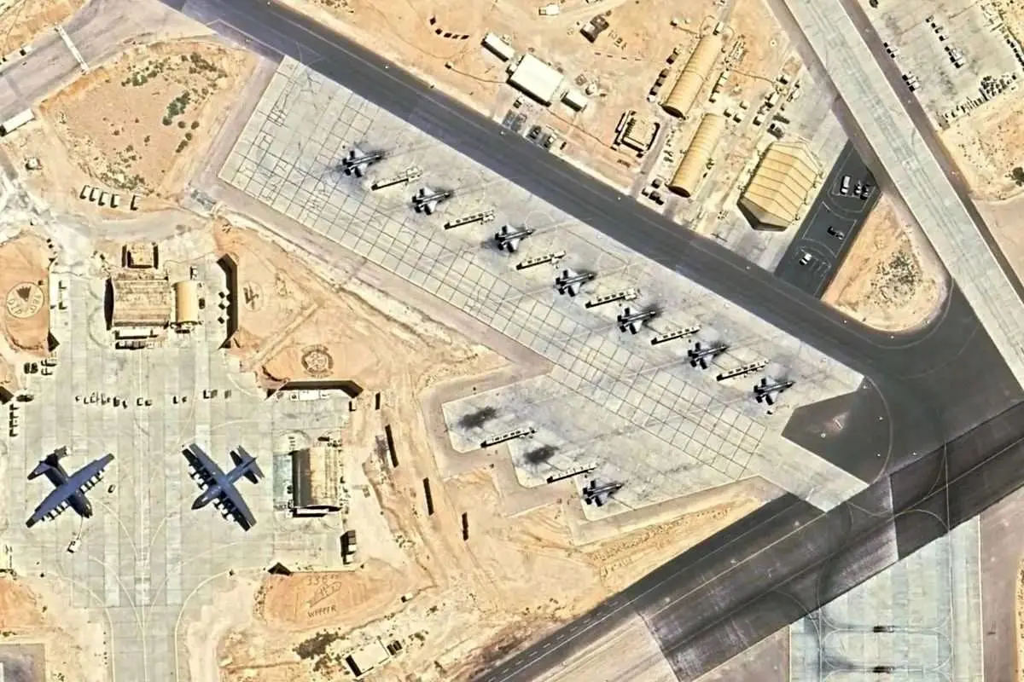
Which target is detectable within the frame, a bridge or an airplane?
airplane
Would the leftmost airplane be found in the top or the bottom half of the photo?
bottom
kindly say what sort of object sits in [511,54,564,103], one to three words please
shed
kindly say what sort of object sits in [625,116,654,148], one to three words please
building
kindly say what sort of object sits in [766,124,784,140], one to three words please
vehicle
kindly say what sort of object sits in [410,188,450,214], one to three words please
airplane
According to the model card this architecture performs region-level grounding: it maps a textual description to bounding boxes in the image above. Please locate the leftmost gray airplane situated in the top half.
[341,150,381,176]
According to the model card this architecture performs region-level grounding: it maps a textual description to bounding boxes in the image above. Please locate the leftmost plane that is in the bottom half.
[34,443,120,523]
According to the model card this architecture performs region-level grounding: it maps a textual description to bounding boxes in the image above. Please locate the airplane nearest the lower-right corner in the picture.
[752,378,791,405]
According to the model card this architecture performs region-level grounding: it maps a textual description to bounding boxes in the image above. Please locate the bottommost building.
[350,640,389,674]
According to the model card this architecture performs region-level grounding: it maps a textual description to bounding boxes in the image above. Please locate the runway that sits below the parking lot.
[471,400,1024,682]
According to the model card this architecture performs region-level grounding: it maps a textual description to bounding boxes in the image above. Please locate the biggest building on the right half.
[740,142,824,229]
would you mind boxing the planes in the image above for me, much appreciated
[582,479,621,506]
[686,342,725,369]
[183,444,267,529]
[752,378,791,405]
[341,150,381,176]
[555,270,594,296]
[616,308,656,334]
[493,225,533,252]
[410,188,450,214]
[34,443,120,523]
